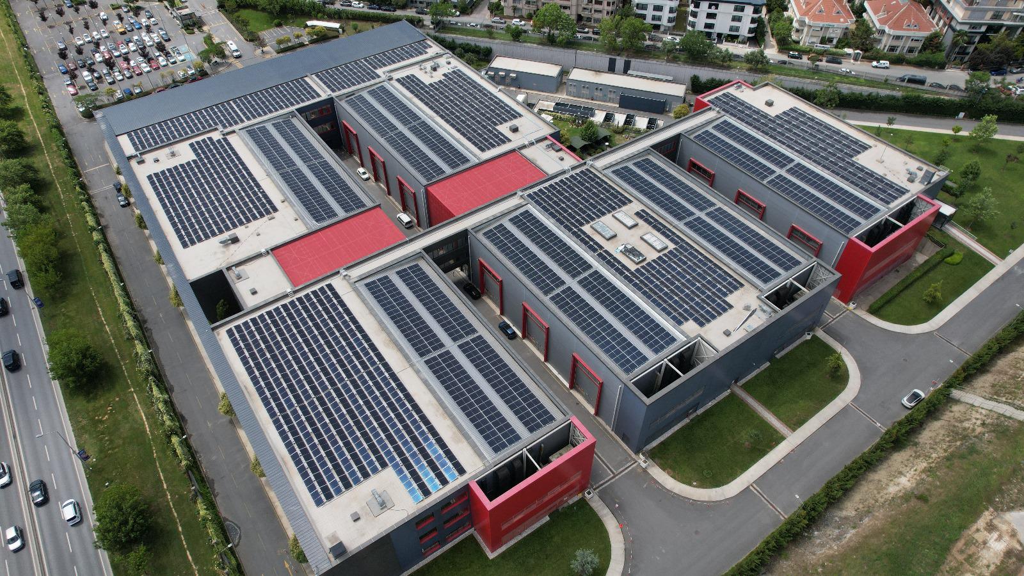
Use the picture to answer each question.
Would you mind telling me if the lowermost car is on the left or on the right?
left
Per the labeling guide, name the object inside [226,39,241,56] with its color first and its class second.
white vehicle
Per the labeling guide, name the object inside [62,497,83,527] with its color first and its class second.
white car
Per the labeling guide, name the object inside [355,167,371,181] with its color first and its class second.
white car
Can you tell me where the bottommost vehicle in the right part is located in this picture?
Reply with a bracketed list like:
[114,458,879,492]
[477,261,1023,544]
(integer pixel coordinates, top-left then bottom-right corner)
[899,388,926,410]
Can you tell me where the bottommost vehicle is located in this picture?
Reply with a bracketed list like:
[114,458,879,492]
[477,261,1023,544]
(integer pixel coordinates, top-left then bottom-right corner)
[5,523,26,555]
